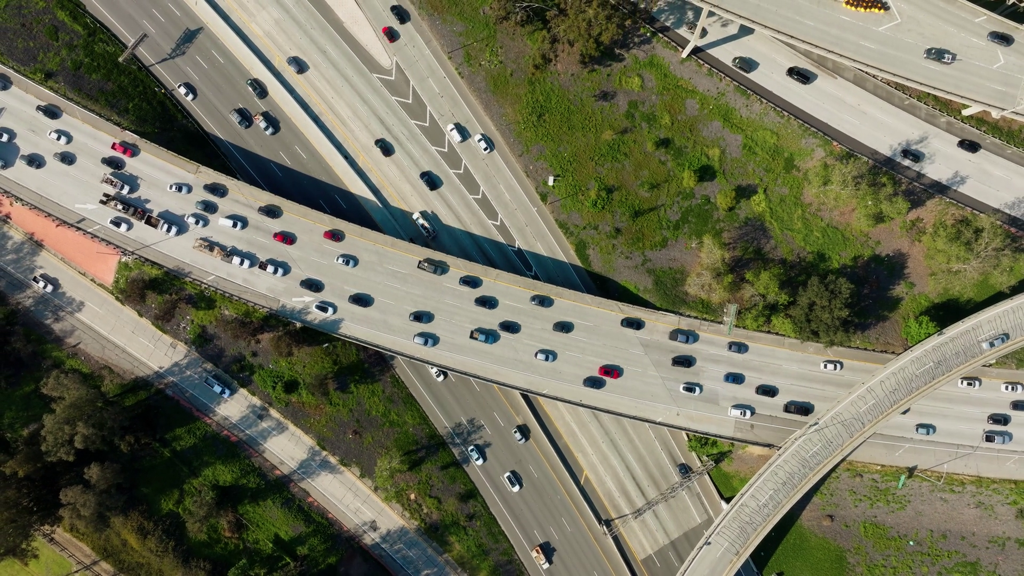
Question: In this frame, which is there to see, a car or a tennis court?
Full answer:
This aerial view contains a car.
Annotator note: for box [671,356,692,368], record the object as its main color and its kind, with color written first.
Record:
black vehicle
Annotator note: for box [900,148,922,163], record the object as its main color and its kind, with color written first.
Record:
black car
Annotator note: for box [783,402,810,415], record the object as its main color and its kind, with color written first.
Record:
black vehicle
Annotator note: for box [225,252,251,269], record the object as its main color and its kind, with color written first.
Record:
white vehicle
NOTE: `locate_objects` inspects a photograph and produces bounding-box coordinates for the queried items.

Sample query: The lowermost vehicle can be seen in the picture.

[530,543,550,570]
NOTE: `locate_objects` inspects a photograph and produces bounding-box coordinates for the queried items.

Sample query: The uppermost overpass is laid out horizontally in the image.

[680,0,1024,126]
